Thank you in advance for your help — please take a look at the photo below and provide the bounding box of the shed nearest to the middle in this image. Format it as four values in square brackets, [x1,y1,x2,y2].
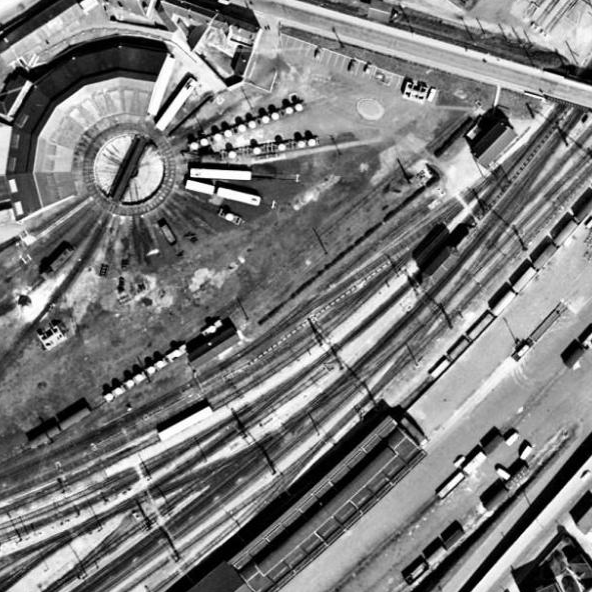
[189,321,243,370]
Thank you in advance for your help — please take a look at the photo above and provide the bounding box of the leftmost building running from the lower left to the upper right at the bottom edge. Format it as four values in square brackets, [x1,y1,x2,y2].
[228,414,425,592]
